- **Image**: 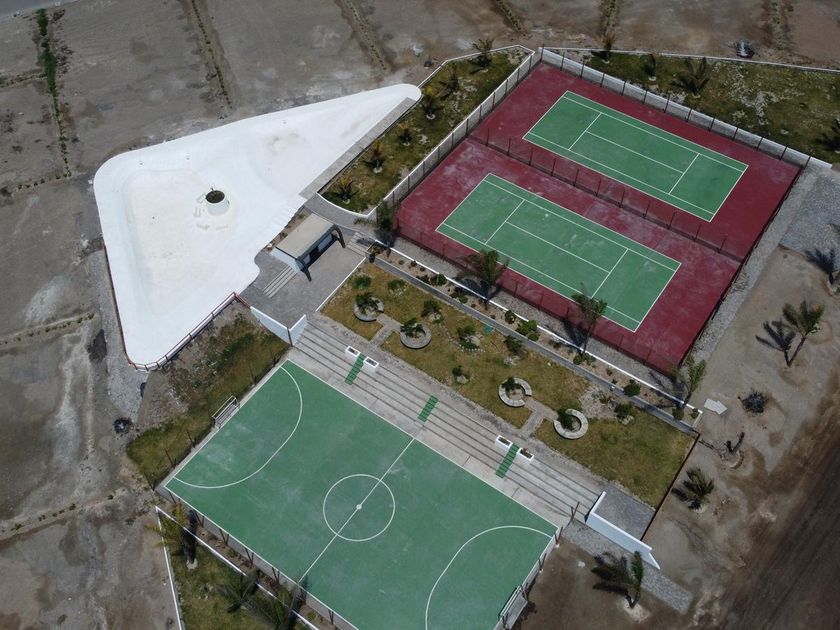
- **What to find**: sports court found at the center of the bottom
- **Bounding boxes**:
[157,349,568,630]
